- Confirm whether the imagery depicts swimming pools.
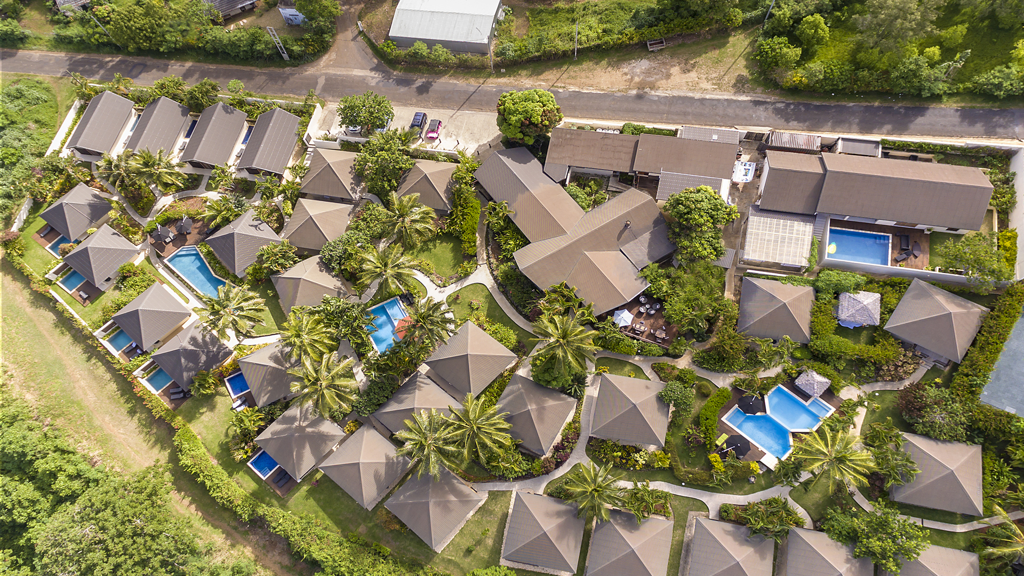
Yes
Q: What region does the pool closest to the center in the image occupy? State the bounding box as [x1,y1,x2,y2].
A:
[363,293,413,355]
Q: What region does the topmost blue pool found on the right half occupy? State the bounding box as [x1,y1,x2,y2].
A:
[818,226,892,265]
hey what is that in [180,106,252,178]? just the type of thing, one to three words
house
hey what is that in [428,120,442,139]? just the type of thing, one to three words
car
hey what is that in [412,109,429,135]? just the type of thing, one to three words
car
